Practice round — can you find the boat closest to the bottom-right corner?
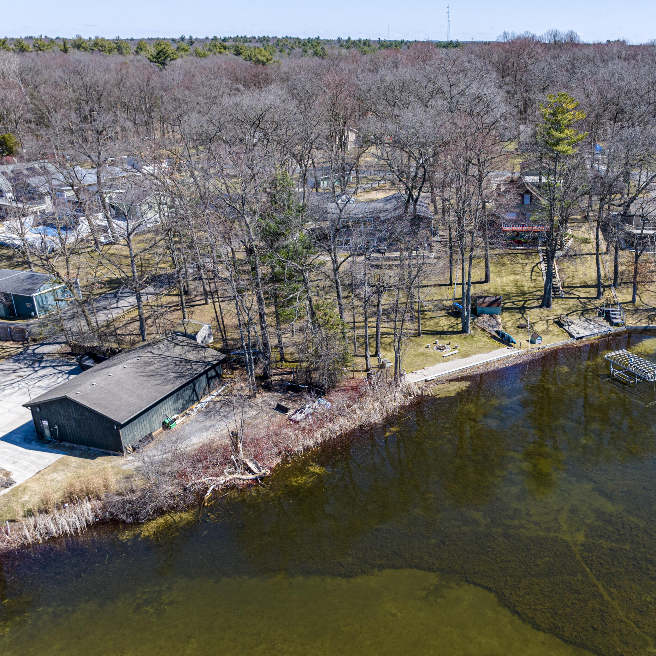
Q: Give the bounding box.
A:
[494,330,519,345]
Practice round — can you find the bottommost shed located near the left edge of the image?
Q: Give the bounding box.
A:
[18,336,226,454]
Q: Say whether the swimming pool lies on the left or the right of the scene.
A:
left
